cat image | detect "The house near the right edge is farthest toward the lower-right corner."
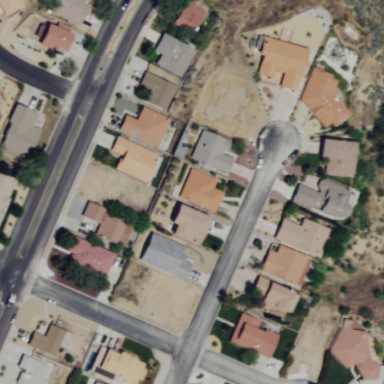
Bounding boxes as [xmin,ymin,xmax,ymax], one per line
[331,320,382,380]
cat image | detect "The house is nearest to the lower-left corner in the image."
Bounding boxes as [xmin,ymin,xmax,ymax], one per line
[17,354,54,384]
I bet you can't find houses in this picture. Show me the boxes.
[0,174,18,223]
[140,232,193,279]
[156,33,197,77]
[112,136,158,183]
[292,178,360,219]
[84,201,132,246]
[54,0,88,24]
[324,138,360,178]
[68,237,116,274]
[180,168,225,213]
[175,3,206,28]
[0,0,24,17]
[301,66,352,128]
[42,23,75,51]
[256,276,300,318]
[262,245,314,287]
[232,312,281,358]
[275,218,330,258]
[17,354,54,384]
[331,320,382,380]
[168,203,215,246]
[29,324,67,356]
[3,104,46,154]
[192,130,234,174]
[92,346,147,384]
[258,28,310,91]
[120,106,172,147]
